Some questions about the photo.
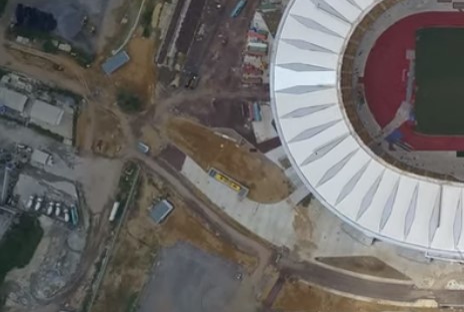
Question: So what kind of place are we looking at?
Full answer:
This looks like a sports ground.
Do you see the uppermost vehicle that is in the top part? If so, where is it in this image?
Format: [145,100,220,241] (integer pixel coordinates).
[232,0,245,17]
